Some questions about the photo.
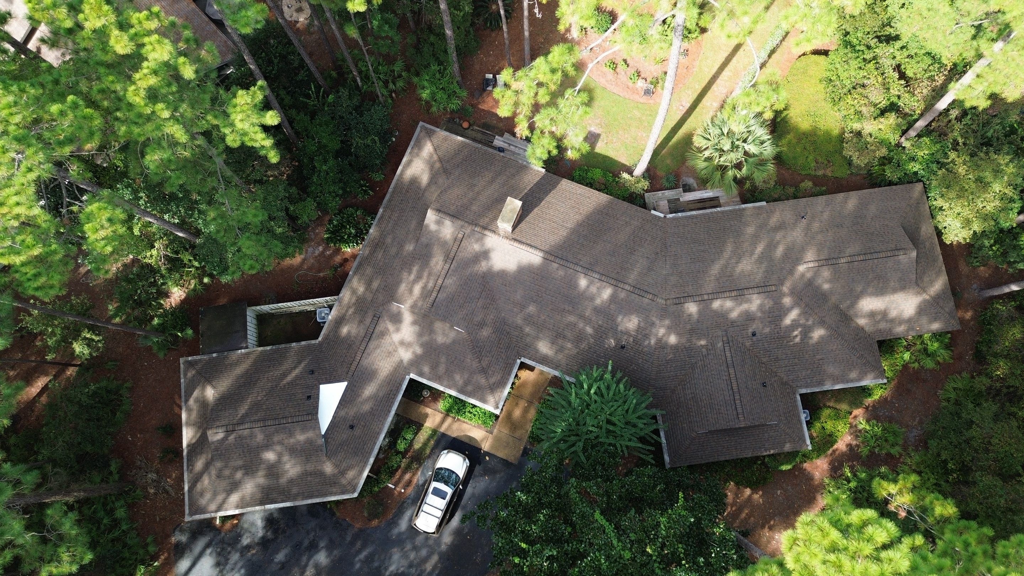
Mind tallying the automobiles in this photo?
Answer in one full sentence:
My tally gives 1 automobile in this photo.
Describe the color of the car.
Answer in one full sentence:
From above, the car appears white.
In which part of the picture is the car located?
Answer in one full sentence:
The car is located in the bottom region of the scene.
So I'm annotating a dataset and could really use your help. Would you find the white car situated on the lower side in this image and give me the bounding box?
[410,447,472,541]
